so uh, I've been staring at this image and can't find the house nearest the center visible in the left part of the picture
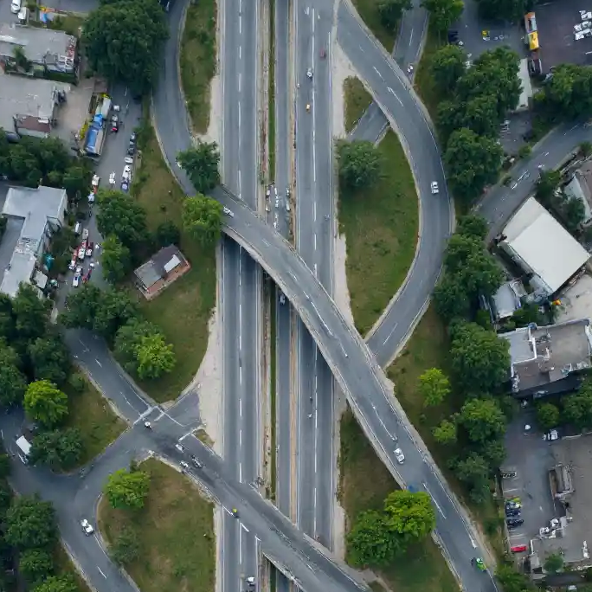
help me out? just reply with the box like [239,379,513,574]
[135,245,192,298]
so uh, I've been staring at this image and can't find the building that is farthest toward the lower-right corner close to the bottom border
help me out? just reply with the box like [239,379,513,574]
[528,434,592,569]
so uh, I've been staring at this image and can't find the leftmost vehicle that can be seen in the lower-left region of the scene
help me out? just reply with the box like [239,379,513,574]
[12,434,36,458]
